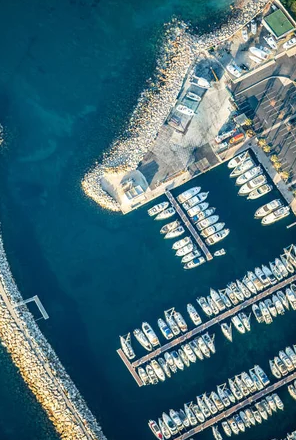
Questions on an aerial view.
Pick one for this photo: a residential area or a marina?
marina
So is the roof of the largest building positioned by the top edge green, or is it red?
green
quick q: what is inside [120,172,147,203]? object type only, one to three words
building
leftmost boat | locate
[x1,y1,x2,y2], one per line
[120,337,135,360]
